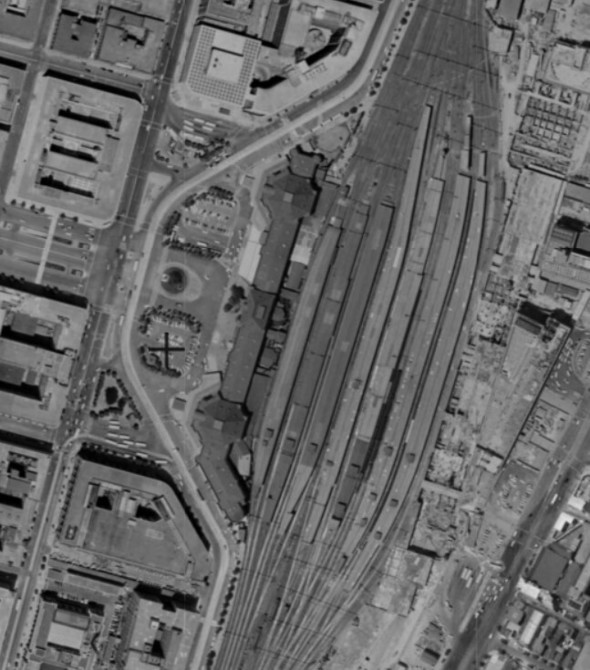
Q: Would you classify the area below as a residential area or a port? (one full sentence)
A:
The picture captures a residential area.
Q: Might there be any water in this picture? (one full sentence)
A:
No, there's no water in this view.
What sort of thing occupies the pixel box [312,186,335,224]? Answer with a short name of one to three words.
shed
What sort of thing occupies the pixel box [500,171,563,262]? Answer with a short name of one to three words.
building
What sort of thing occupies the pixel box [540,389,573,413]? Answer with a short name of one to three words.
house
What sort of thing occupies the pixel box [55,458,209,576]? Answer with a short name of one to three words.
building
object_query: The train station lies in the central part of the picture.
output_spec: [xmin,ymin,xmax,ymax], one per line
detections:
[193,152,319,521]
